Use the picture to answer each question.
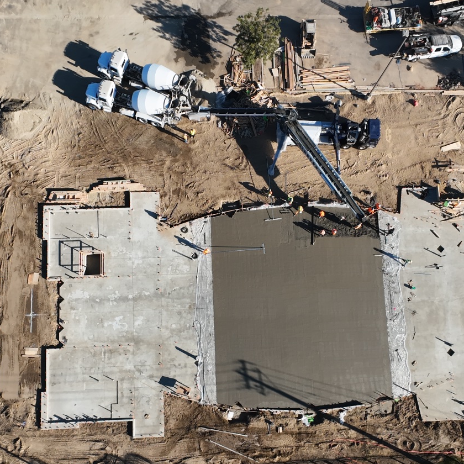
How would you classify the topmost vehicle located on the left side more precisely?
truck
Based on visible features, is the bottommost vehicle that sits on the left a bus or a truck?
truck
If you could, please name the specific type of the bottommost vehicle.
truck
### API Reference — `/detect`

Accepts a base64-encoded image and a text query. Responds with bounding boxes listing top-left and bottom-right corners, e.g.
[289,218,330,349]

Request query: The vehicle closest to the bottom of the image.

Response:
[187,103,380,220]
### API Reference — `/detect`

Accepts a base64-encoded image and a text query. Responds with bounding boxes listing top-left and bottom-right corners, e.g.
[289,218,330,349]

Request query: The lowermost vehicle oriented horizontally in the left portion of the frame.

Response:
[81,74,204,129]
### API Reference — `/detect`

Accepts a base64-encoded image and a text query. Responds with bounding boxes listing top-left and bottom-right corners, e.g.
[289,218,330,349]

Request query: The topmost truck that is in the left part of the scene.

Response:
[95,41,218,97]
